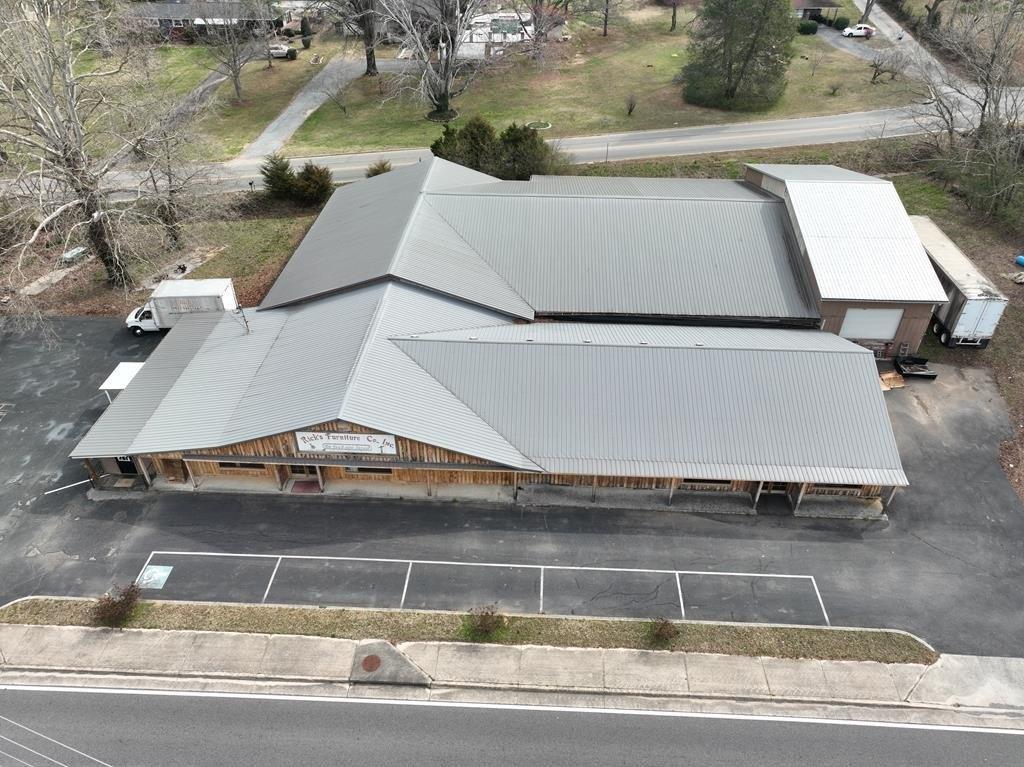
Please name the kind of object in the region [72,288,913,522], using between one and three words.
building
